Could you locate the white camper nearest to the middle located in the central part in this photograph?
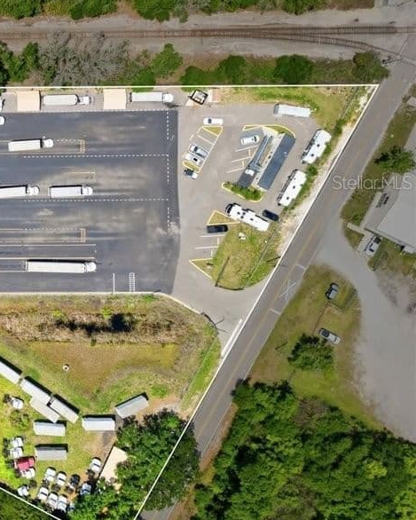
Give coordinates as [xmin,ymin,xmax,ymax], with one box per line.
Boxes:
[223,203,269,231]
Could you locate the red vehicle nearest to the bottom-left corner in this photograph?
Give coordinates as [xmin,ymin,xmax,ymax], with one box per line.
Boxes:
[4,454,35,469]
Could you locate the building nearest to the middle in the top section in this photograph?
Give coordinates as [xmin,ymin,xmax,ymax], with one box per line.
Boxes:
[234,129,295,190]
